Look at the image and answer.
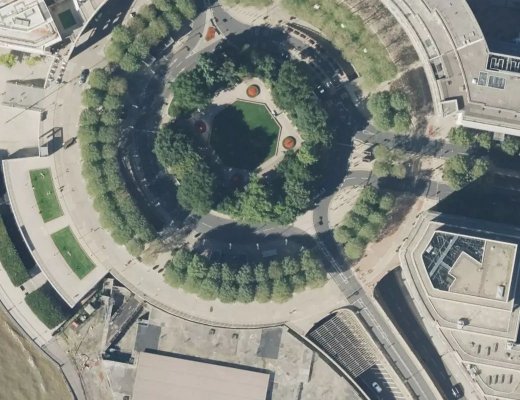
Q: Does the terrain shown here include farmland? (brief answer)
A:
No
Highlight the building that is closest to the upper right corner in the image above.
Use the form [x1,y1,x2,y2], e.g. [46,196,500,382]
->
[376,0,520,139]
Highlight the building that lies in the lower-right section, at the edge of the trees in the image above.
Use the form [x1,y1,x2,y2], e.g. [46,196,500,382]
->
[398,213,520,400]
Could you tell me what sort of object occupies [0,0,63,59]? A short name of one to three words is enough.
building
